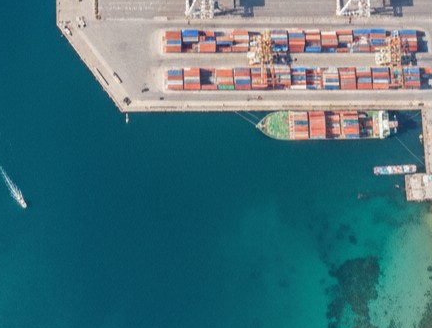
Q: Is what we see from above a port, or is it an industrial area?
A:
port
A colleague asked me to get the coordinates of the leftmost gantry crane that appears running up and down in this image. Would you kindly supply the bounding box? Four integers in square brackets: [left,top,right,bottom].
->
[247,28,275,96]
